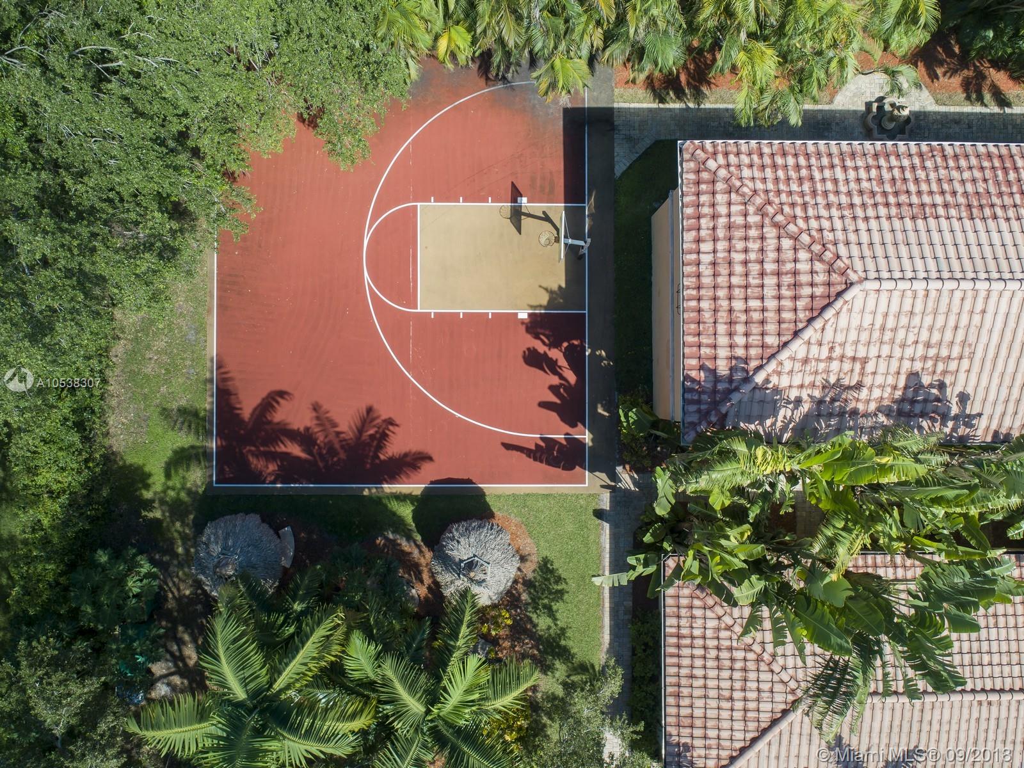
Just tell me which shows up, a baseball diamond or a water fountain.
water fountain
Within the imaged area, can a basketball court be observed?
Yes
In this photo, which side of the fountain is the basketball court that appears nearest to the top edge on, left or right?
to its left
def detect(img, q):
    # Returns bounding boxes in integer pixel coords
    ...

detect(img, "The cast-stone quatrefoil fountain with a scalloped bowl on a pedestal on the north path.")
[855,89,920,140]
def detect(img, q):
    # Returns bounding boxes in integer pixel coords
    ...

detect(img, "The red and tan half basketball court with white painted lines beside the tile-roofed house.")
[206,53,615,494]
